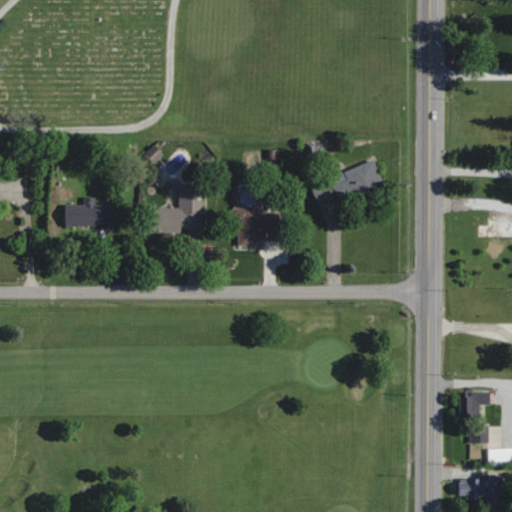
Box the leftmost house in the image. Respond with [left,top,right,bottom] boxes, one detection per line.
[64,198,96,228]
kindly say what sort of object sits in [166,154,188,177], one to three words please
swimming pool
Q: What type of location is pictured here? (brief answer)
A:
golf course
